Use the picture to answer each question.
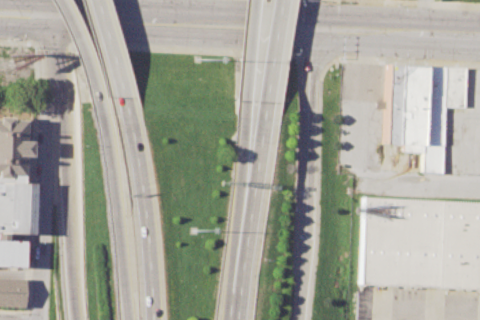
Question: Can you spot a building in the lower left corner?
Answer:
Yes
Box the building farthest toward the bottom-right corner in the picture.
[360,196,480,289]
